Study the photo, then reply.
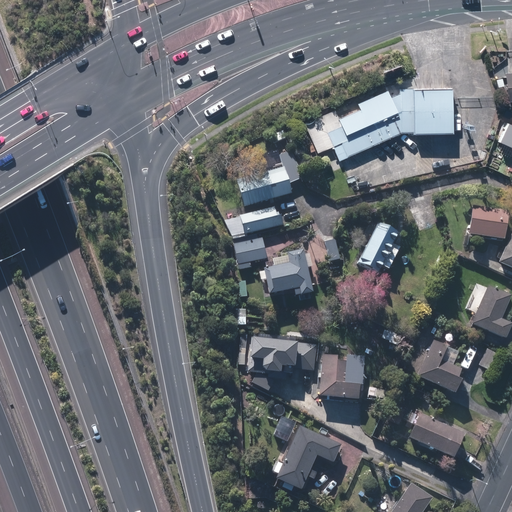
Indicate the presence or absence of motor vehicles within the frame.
Yes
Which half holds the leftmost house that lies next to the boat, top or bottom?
bottom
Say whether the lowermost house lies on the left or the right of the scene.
right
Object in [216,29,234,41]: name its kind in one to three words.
vehicle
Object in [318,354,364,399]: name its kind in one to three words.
house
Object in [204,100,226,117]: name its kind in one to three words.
vehicle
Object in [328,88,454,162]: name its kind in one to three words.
building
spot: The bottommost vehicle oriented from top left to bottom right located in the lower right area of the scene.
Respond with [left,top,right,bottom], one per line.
[465,454,484,472]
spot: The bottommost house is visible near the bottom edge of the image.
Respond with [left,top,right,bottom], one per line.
[392,482,434,512]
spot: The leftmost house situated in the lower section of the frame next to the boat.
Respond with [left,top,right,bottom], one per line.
[419,340,467,392]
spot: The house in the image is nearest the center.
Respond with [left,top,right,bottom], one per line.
[234,237,267,269]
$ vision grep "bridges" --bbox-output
[0,70,74,214]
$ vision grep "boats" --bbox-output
[460,347,476,369]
